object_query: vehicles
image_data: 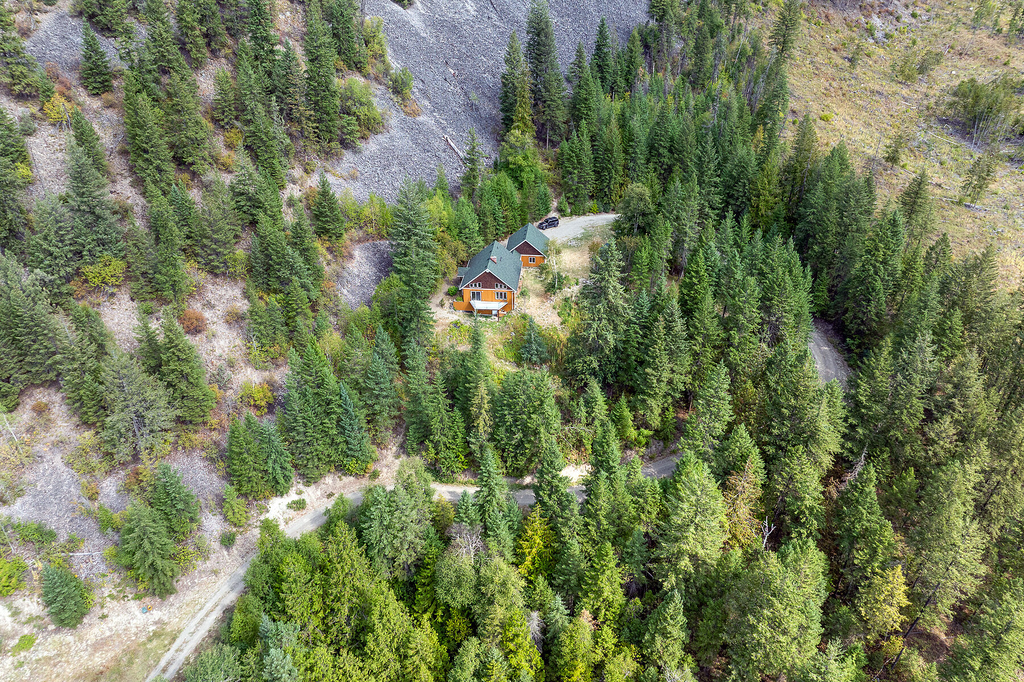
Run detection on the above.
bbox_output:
[539,215,563,231]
